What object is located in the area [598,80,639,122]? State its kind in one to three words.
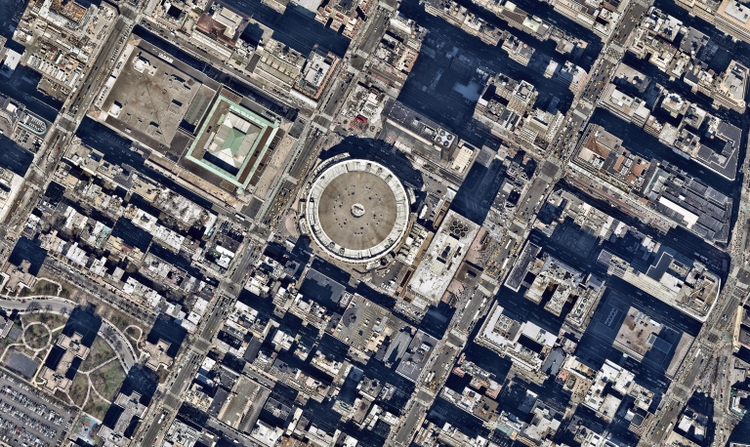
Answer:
building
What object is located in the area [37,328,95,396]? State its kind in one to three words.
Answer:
building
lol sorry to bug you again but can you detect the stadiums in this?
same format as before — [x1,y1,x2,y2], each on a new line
[299,157,410,262]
